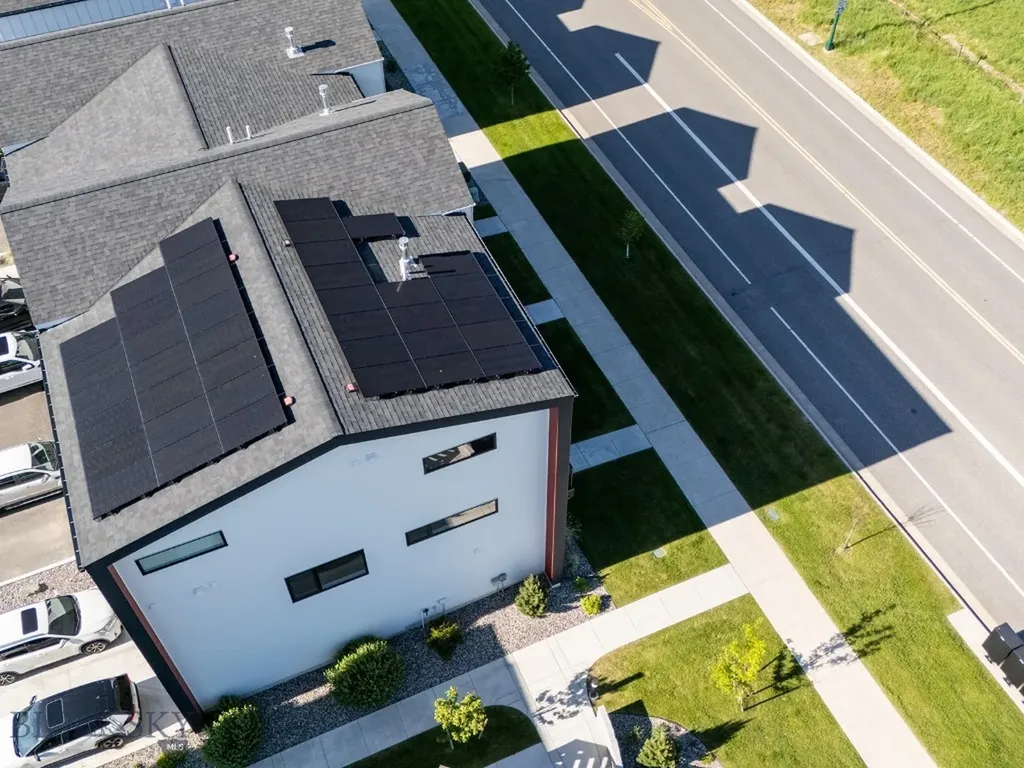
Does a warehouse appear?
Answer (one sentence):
No, there is no warehouse in the image.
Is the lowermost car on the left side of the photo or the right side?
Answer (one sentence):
You can find the lowermost car on the left side of the picture.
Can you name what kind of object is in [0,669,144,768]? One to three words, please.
car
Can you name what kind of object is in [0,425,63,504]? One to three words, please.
car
